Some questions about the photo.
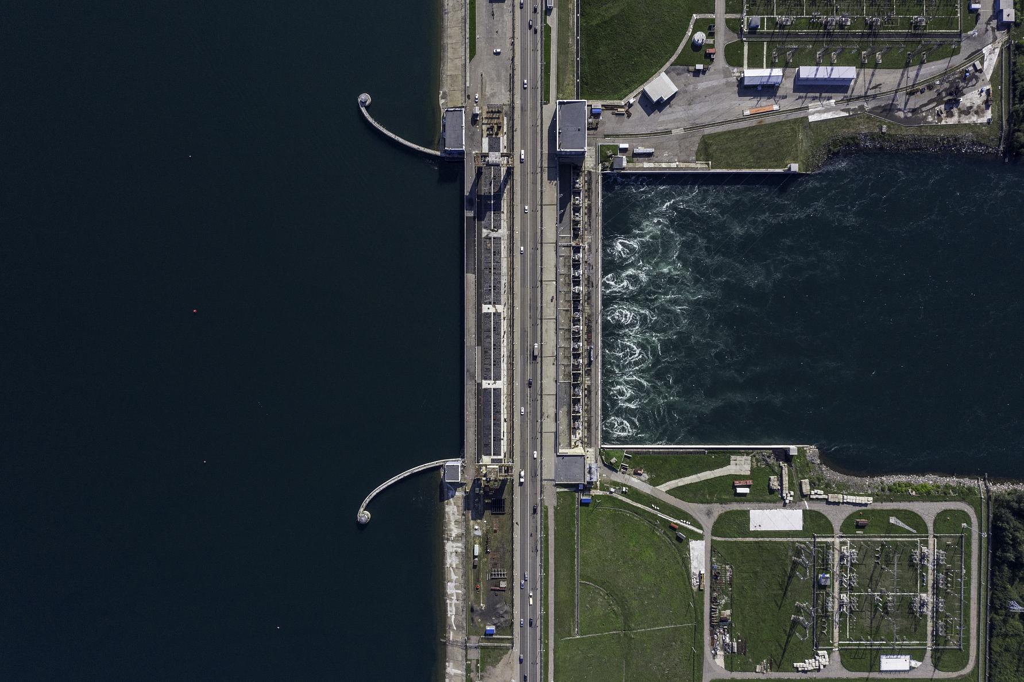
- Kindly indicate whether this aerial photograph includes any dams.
Yes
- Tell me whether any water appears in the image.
Yes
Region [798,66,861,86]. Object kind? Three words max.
shed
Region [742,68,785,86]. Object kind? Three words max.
shed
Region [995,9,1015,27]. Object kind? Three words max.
building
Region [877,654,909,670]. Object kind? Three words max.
house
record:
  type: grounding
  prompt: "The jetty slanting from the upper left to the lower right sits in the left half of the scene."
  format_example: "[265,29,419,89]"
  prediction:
[358,93,444,157]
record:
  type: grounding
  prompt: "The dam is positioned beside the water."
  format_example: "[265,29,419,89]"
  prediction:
[463,103,602,488]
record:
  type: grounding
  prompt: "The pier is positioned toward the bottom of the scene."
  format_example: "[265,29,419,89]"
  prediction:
[358,458,461,524]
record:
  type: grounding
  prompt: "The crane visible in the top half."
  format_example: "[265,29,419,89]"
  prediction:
[476,151,513,176]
